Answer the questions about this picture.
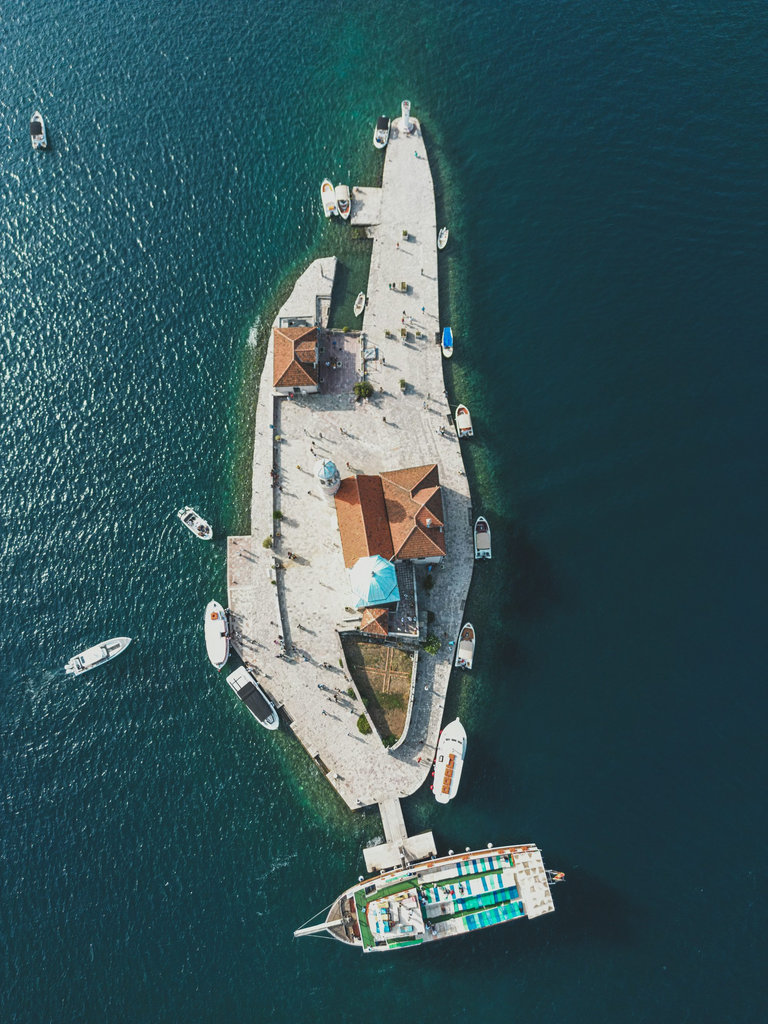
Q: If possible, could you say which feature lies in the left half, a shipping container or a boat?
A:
boat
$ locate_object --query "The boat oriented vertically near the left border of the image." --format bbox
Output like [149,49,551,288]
[29,108,47,153]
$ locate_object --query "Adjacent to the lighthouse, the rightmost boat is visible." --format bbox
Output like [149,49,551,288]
[375,112,391,150]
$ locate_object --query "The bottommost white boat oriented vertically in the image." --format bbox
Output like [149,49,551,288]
[432,716,466,803]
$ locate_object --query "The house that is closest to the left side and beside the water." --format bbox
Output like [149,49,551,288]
[273,326,317,393]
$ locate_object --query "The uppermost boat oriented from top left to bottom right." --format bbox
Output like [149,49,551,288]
[176,508,213,539]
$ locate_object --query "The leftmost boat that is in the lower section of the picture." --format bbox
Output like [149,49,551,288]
[66,639,132,676]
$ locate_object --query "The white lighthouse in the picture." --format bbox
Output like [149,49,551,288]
[397,100,414,140]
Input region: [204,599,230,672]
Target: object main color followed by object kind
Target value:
white boat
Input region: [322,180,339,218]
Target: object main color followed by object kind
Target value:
white boat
